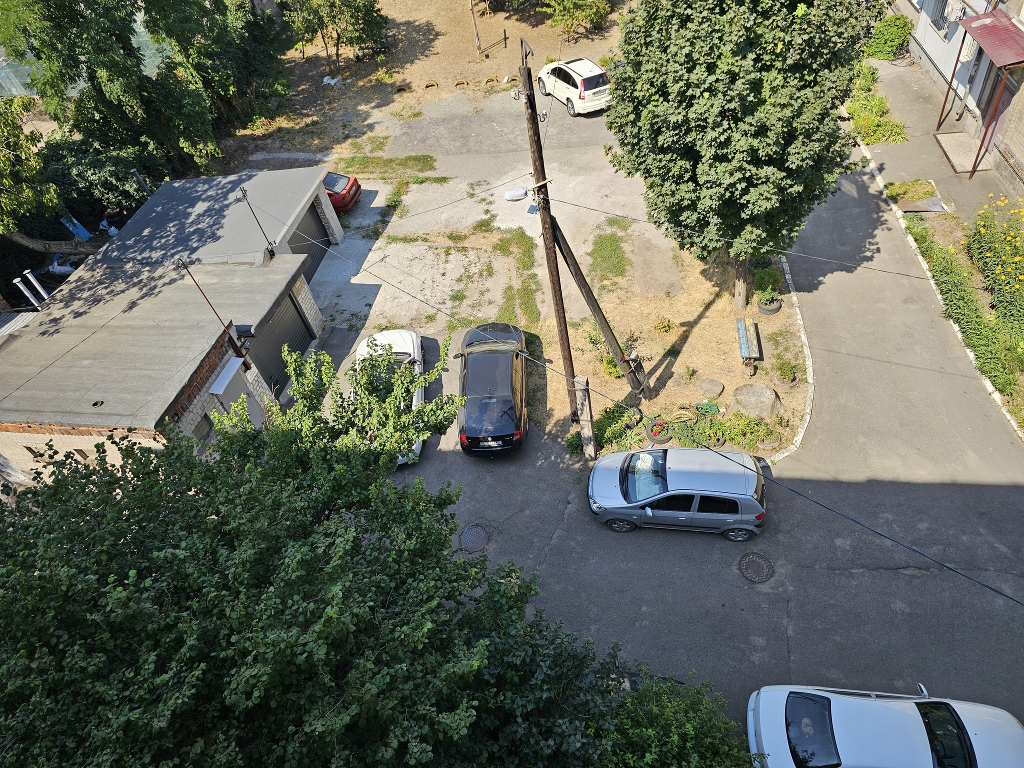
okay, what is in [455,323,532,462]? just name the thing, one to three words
car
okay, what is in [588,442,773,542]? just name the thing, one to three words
car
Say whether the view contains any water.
No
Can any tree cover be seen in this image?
Yes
